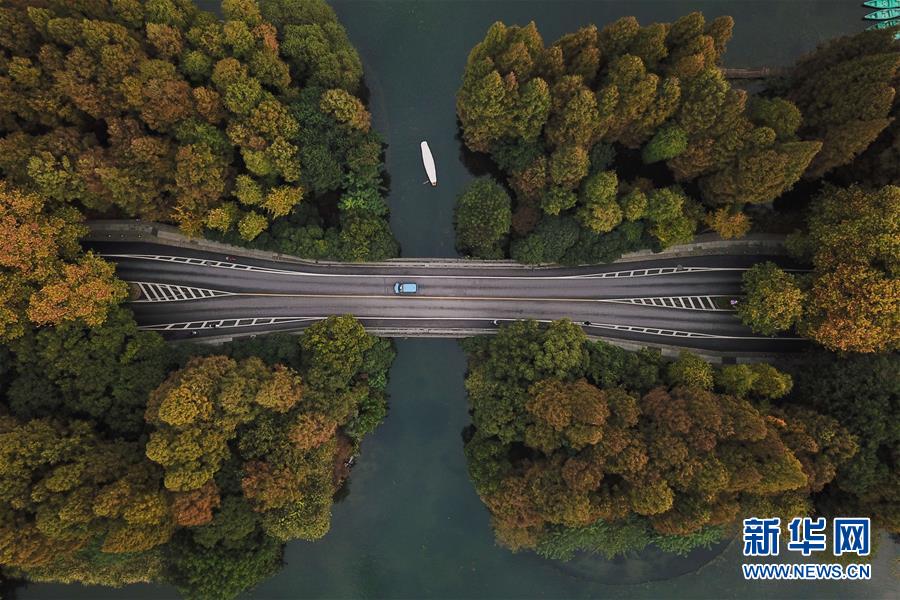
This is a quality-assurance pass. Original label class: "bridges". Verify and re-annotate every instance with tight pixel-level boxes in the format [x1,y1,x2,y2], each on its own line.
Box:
[391,258,477,337]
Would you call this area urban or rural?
rural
